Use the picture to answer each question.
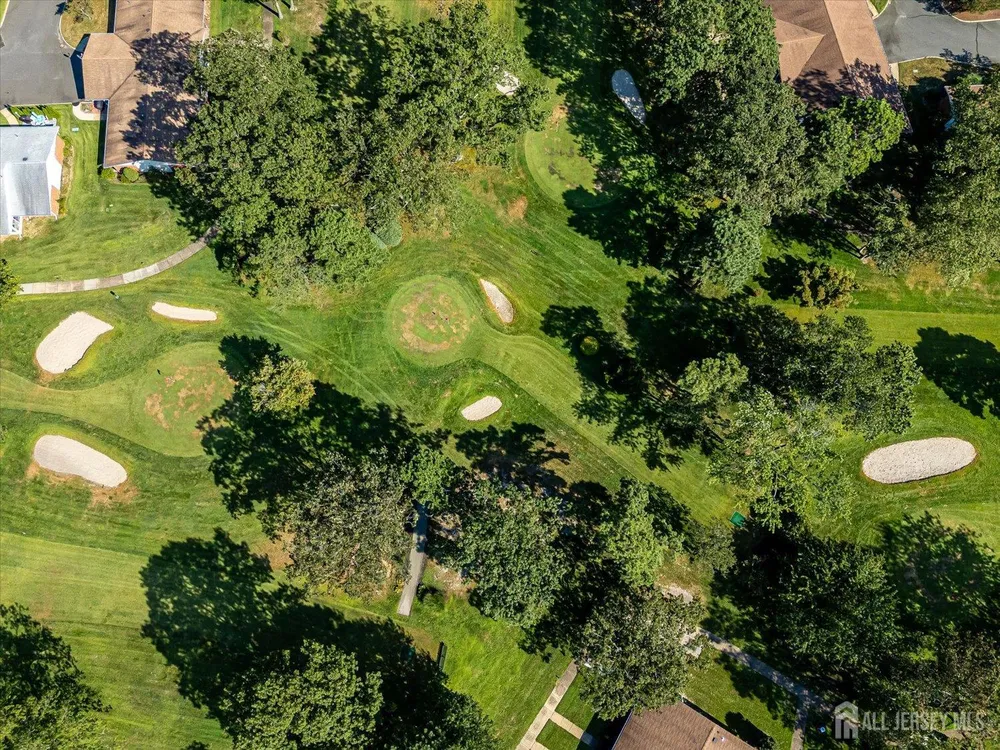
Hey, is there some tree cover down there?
Yes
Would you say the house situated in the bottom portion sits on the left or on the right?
right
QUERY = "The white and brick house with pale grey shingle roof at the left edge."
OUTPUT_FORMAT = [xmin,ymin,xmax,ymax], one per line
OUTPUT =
[0,123,67,238]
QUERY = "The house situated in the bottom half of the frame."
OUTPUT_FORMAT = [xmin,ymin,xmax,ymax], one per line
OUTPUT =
[607,675,779,750]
